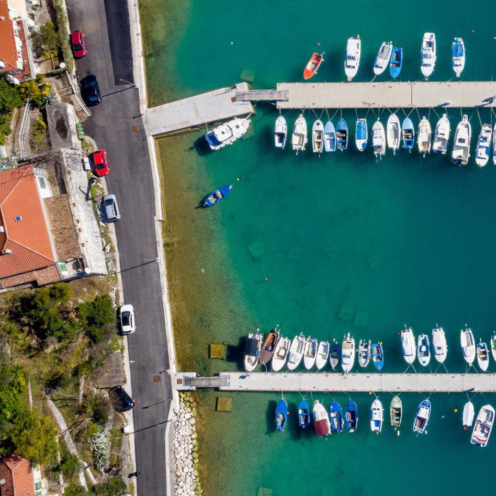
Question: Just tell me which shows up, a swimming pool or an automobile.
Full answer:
Looking from above, you can make out an automobile.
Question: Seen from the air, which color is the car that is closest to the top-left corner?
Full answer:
The car that is closest to the top-left corner looks red in the image.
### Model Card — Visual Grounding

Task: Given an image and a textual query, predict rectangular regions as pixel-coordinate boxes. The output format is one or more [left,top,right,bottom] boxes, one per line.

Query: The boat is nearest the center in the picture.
[172,186,231,212]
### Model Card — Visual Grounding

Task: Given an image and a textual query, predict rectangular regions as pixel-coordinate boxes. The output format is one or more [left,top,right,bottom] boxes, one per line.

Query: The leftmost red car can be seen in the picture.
[66,28,86,57]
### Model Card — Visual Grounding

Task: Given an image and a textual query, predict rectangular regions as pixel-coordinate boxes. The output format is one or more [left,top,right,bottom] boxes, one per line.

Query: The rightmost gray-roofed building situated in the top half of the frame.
[46,103,92,152]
